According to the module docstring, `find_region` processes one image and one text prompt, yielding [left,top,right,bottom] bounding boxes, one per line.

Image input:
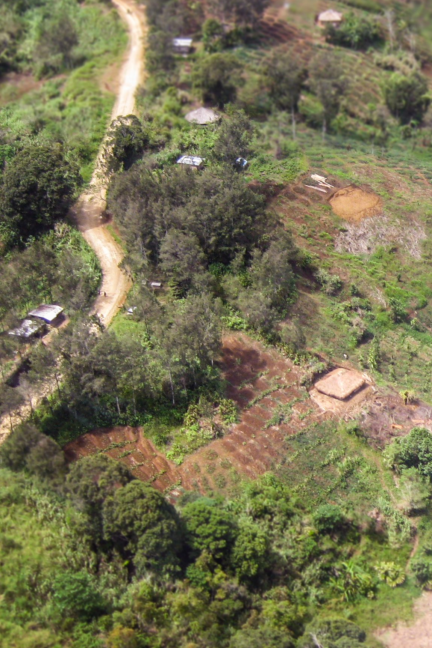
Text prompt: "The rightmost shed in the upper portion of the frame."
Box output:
[317,6,341,23]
